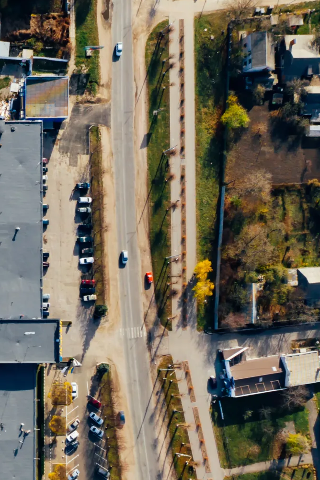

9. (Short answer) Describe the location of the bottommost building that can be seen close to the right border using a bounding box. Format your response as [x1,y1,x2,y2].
[223,352,320,398]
